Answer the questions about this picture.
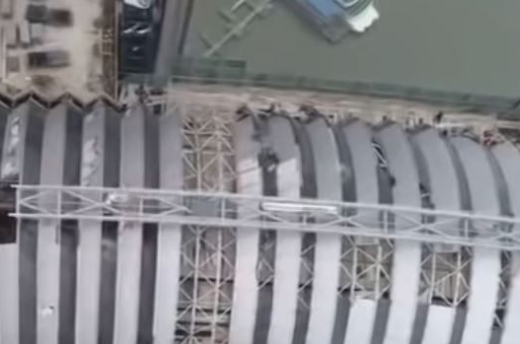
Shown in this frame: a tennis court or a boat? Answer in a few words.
boat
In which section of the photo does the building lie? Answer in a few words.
top left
